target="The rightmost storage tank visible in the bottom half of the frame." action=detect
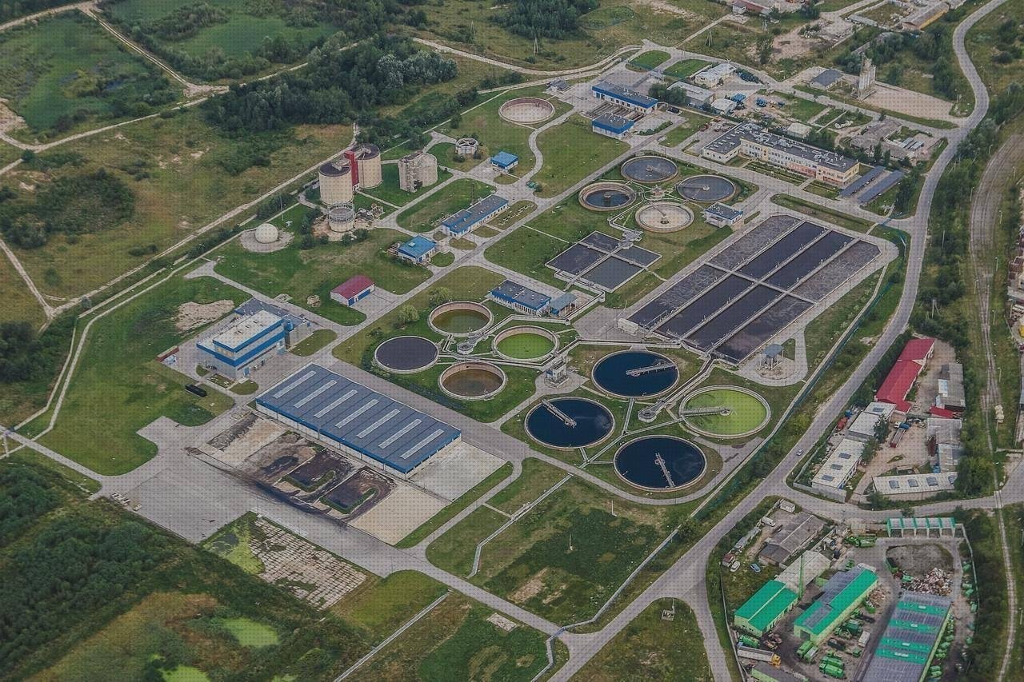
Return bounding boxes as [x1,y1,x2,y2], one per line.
[679,386,772,441]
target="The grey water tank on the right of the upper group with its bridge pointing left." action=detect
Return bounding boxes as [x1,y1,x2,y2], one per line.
[676,175,735,204]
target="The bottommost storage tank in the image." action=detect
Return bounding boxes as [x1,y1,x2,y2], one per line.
[613,435,707,493]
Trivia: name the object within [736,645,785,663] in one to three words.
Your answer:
vehicle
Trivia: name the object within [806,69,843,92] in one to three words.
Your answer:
barn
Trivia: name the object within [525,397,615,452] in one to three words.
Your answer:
storage tank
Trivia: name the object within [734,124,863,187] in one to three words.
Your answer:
building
